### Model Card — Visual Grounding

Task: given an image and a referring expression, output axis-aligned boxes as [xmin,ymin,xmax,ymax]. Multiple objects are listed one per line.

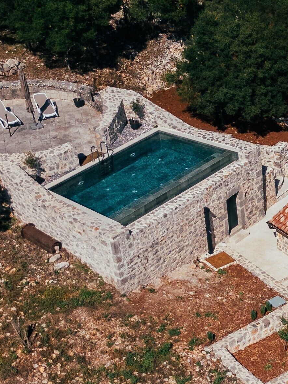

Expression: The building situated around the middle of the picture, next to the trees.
[0,144,266,308]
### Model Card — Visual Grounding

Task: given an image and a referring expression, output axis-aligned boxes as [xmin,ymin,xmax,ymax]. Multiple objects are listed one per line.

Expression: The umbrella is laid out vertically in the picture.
[23,76,43,127]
